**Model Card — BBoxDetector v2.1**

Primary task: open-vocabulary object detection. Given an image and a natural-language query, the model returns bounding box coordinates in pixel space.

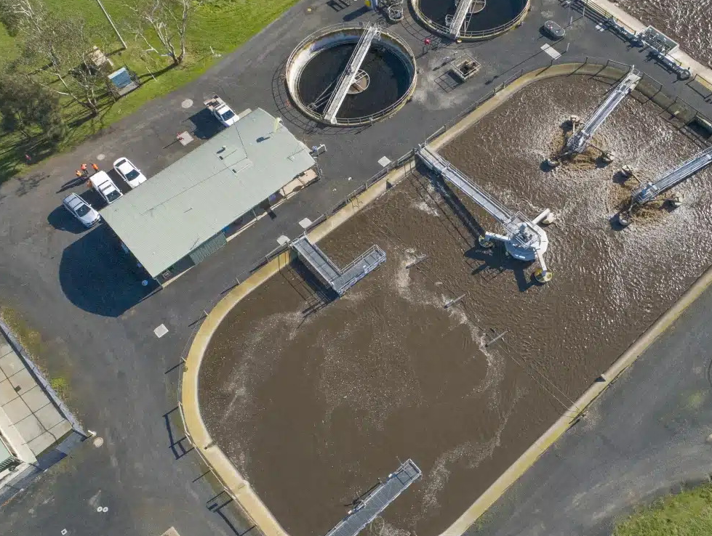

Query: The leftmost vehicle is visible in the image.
[61,193,100,229]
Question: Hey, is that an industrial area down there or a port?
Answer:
industrial area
